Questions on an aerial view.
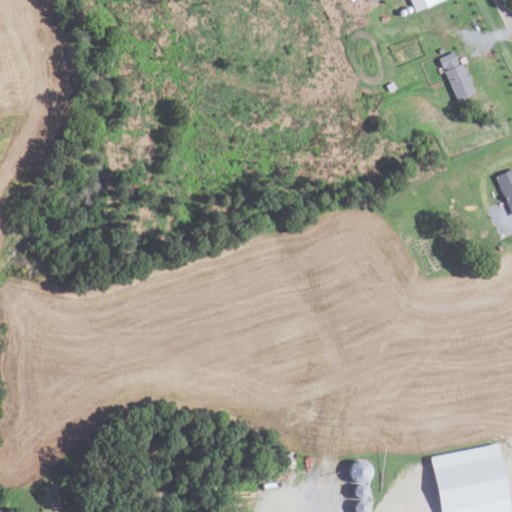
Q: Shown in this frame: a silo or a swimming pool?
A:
silo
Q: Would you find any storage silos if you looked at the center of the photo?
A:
No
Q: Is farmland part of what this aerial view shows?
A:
Yes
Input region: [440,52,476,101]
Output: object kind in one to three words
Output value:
house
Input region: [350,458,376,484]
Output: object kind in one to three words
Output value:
silo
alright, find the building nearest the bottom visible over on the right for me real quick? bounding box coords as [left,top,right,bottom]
[432,442,512,512]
